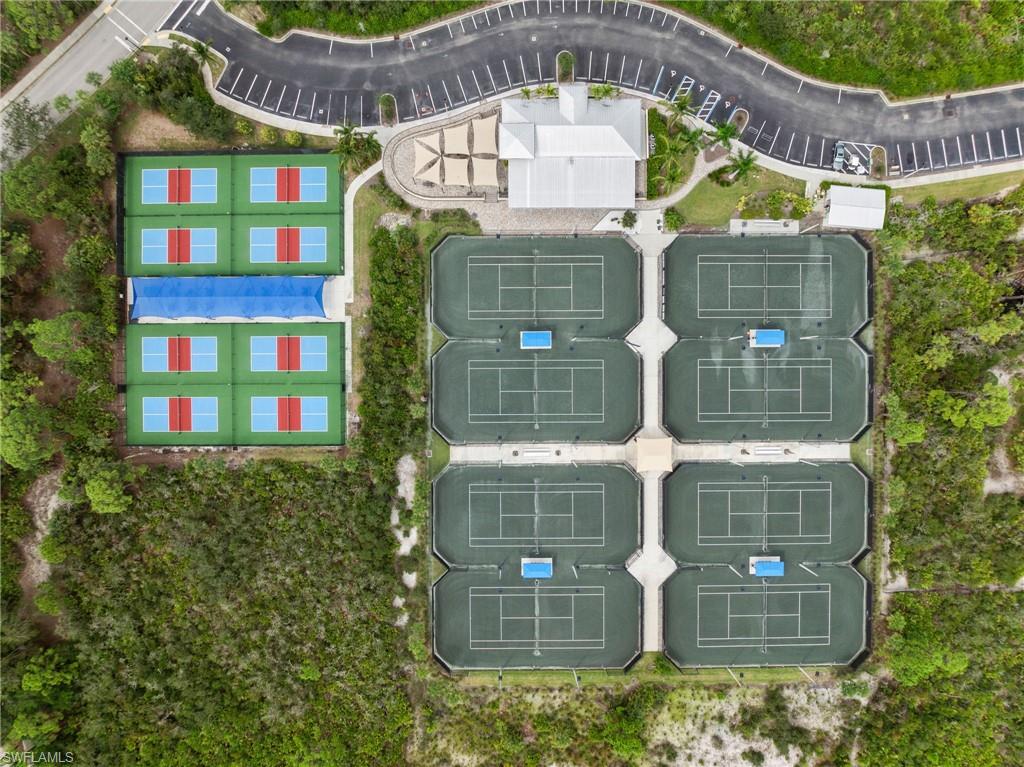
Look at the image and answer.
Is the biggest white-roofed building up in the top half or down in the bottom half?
top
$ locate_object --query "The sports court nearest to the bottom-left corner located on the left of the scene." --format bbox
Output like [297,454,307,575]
[127,384,234,445]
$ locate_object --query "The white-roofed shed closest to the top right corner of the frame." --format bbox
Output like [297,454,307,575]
[823,185,886,231]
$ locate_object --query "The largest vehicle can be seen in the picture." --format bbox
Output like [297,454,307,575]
[831,142,847,171]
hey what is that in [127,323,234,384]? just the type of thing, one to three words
sports court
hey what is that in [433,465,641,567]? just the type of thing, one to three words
tennis court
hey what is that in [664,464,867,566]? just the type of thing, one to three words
tennis court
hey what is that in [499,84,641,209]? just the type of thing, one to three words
building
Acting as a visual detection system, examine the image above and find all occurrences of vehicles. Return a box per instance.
[849,154,863,170]
[831,142,847,171]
